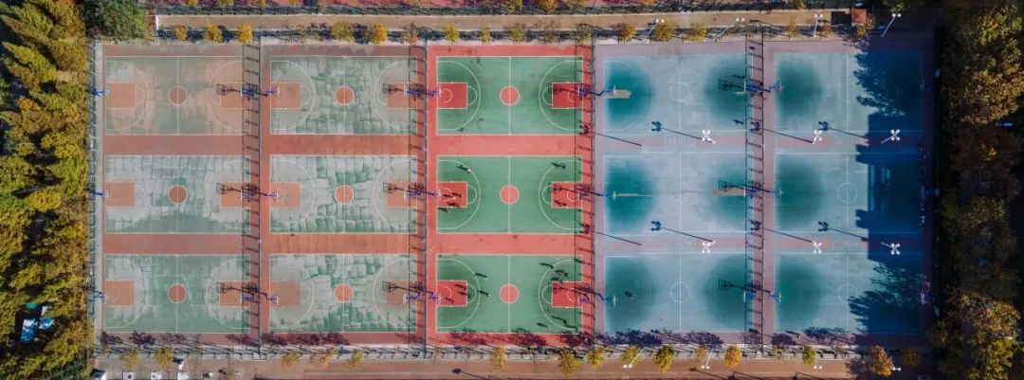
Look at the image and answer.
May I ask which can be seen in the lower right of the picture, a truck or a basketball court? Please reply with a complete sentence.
Visible in the lower right of the picture is a basketball court.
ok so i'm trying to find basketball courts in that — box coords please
[774,244,923,333]
[437,255,583,333]
[437,155,583,233]
[271,255,416,333]
[774,53,923,151]
[605,53,752,151]
[106,155,251,233]
[271,155,416,233]
[605,145,752,250]
[605,244,752,333]
[106,255,251,333]
[106,56,251,134]
[437,56,583,134]
[271,56,416,134]
[774,145,923,250]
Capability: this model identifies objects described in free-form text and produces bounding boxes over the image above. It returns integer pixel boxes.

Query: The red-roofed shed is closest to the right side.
[854,5,874,27]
